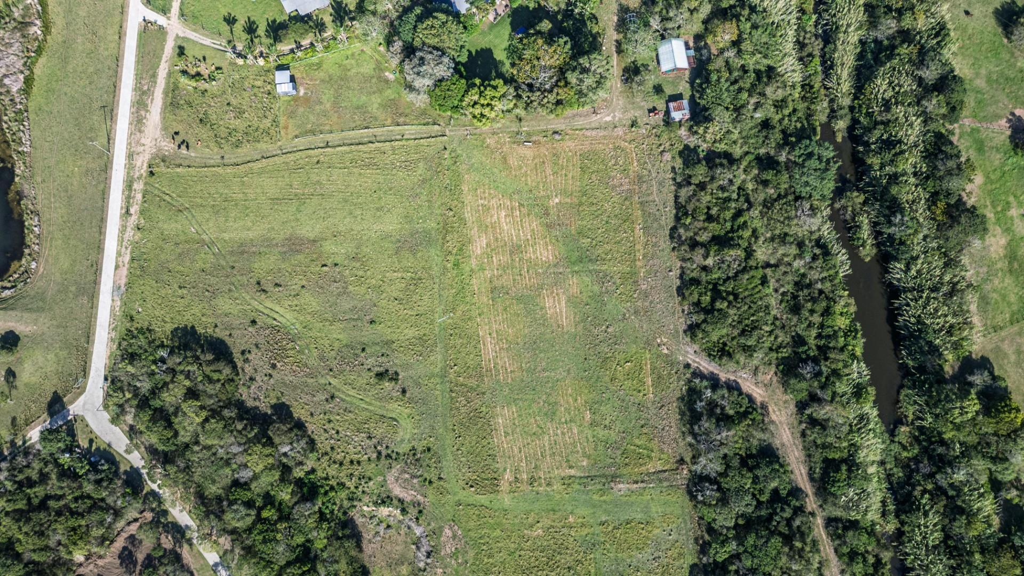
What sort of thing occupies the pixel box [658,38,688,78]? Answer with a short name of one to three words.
building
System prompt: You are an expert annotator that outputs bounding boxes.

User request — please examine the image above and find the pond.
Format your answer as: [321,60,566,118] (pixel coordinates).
[0,140,24,277]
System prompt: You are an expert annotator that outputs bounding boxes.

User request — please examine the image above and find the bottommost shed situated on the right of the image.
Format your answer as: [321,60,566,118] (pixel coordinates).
[668,100,690,123]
